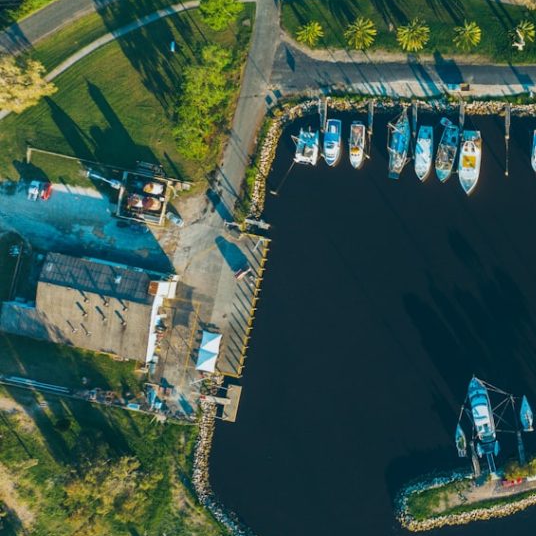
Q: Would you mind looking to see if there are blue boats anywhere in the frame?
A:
Yes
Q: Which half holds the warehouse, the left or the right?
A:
left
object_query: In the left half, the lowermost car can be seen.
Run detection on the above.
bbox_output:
[167,210,182,228]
